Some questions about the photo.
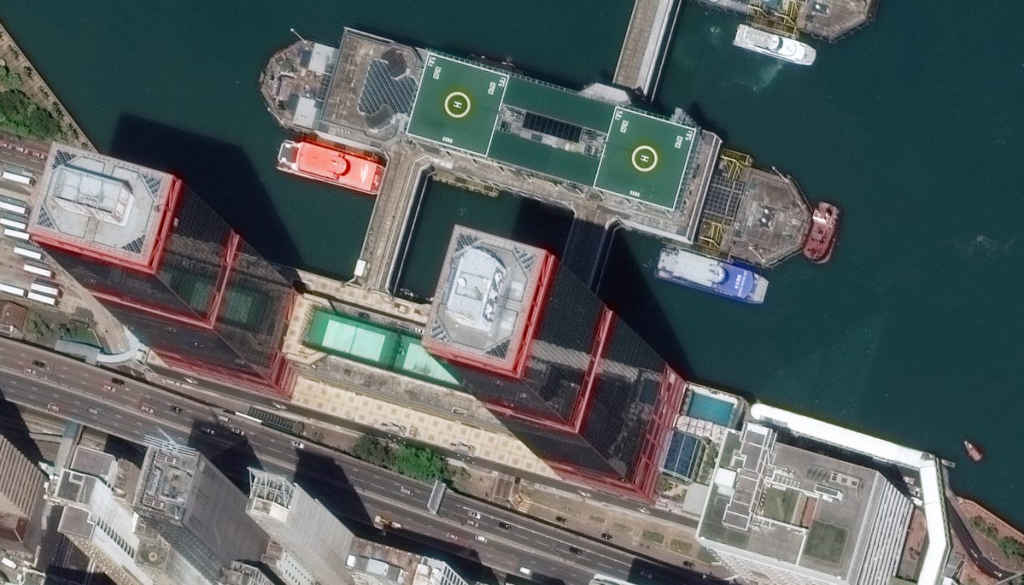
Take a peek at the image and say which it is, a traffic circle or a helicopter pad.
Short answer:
helicopter pad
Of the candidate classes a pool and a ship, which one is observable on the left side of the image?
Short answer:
ship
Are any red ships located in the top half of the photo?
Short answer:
Yes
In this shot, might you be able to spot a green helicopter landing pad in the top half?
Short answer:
Yes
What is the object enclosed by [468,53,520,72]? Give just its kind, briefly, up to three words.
vessel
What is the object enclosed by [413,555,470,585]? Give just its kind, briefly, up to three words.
building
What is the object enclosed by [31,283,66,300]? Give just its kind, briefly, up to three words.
vehicle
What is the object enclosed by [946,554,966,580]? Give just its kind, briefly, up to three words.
shed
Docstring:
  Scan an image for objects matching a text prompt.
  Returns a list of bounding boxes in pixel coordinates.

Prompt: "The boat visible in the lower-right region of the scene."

[964,440,983,462]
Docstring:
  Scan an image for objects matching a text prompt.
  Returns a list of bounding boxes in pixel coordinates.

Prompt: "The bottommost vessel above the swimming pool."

[655,248,769,305]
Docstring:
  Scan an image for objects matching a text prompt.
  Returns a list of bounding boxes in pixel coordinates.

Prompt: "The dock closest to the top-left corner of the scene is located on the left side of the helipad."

[258,39,338,135]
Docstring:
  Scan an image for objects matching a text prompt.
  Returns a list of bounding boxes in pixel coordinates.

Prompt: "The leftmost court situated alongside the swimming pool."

[664,431,702,481]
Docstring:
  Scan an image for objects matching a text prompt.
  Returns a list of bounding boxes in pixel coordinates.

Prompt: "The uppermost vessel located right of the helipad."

[733,23,817,66]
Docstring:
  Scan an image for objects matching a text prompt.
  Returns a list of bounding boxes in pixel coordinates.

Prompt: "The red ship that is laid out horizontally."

[278,140,386,195]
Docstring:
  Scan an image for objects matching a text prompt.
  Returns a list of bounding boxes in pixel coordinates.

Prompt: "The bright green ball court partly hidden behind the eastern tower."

[391,329,473,391]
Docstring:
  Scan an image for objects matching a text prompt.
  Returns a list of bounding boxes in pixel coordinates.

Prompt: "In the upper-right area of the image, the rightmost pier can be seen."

[793,0,880,47]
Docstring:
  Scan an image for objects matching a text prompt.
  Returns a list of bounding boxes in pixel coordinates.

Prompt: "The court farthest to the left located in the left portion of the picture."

[302,305,400,368]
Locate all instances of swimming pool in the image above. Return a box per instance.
[681,384,753,432]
